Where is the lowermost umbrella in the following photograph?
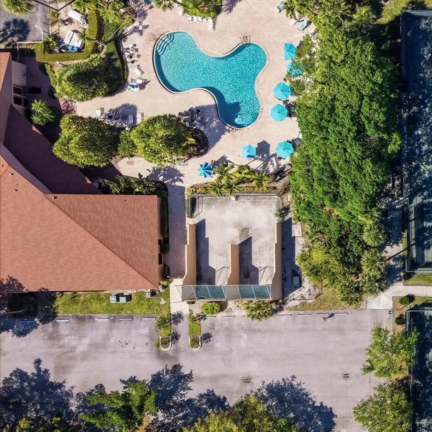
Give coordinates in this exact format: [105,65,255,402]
[198,162,215,177]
